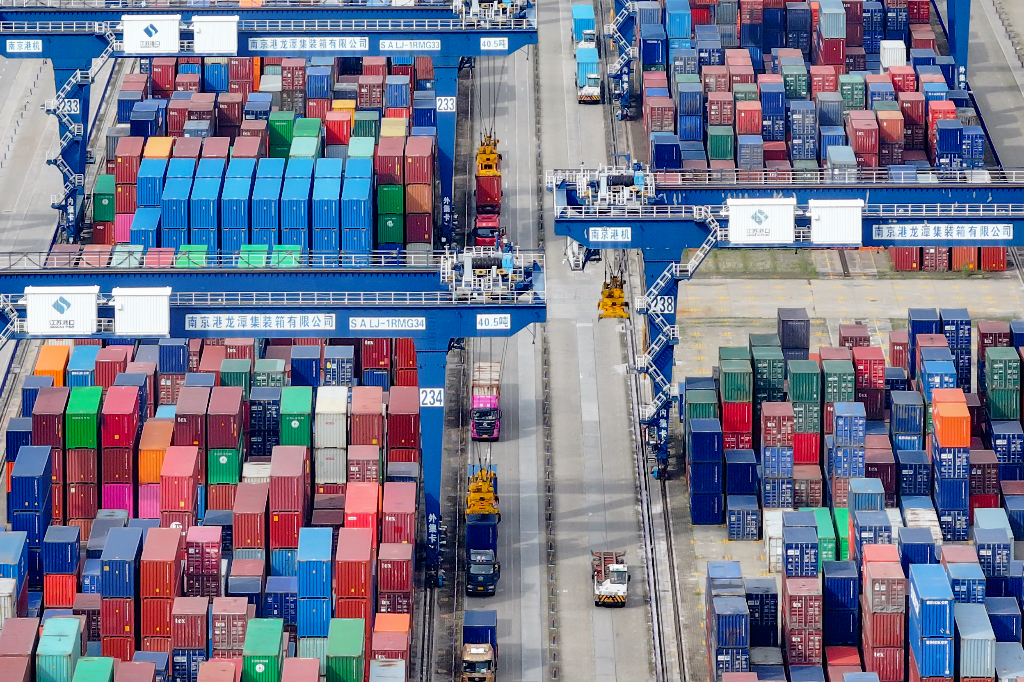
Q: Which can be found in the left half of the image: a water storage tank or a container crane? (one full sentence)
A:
It is a container crane that can be seen in the left half of the image.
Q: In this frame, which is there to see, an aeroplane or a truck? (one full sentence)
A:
I can see a truck in this picture.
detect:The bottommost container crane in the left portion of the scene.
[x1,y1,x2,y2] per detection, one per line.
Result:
[0,229,548,589]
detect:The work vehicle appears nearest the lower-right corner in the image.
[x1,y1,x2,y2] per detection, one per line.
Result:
[590,546,628,604]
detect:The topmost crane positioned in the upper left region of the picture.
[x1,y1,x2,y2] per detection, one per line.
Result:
[0,0,543,253]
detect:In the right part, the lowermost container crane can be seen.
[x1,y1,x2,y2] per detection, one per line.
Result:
[554,146,1024,482]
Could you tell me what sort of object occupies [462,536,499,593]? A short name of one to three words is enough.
truck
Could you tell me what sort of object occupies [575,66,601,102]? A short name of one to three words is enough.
work vehicle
